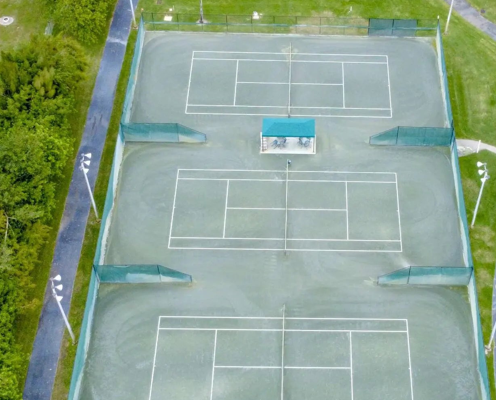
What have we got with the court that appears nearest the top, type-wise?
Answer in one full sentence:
From above, the court that appears nearest the top can be identified as a tennis court.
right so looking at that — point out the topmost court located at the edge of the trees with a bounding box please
[128,30,447,145]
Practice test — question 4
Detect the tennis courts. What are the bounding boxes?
[128,30,447,145]
[78,280,482,400]
[103,140,464,284]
